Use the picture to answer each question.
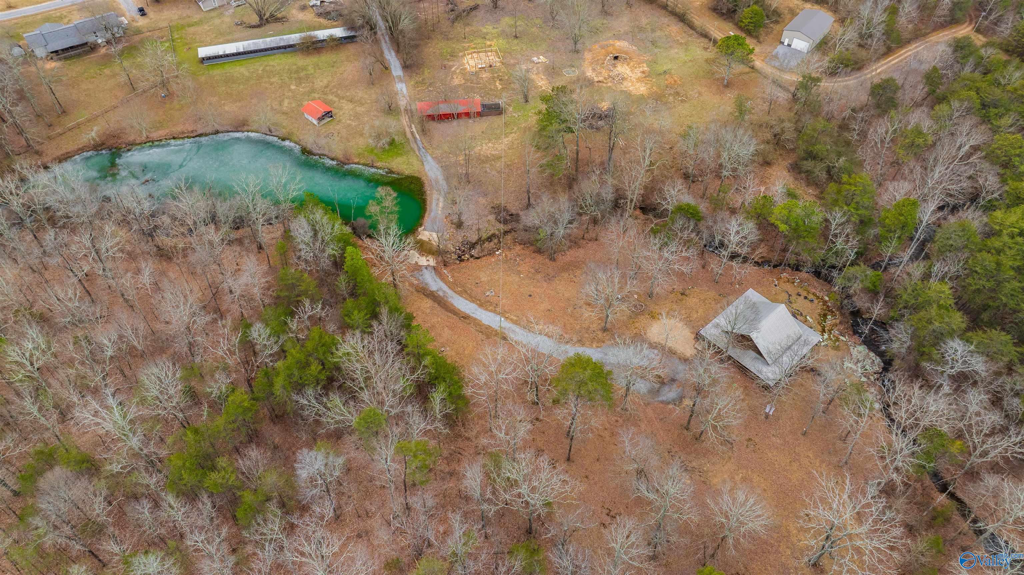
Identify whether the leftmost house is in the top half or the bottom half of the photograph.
top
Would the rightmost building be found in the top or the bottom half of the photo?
top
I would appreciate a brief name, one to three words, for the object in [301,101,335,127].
shed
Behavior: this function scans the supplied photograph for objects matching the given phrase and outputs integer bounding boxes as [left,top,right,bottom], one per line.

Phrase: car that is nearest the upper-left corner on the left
[135,6,147,18]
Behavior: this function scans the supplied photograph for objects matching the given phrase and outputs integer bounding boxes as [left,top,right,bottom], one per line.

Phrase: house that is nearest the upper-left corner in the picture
[23,14,130,61]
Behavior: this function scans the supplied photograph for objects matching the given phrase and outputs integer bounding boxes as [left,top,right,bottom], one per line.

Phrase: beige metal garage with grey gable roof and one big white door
[779,10,834,51]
